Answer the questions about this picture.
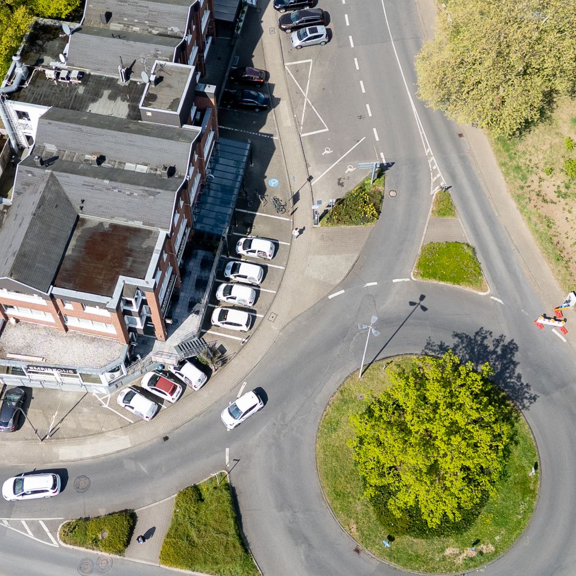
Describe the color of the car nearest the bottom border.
white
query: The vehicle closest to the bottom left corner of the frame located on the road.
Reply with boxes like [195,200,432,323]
[4,472,62,505]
